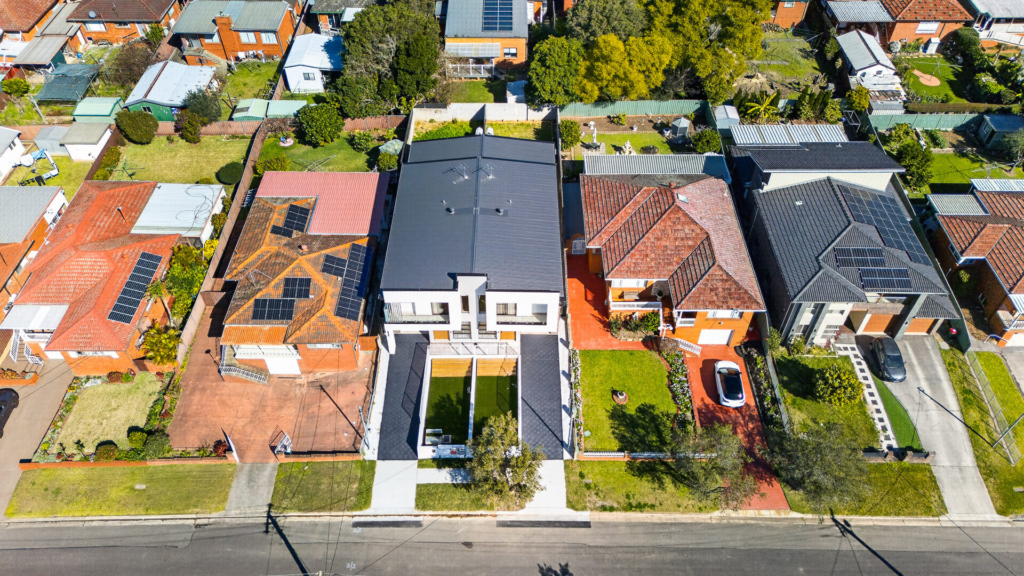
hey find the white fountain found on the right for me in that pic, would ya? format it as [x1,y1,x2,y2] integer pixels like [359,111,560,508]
[617,138,637,155]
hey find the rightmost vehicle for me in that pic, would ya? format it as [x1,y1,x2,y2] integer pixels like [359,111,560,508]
[873,335,910,385]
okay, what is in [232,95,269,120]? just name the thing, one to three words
shed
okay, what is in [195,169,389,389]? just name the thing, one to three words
house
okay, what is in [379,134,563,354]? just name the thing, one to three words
house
